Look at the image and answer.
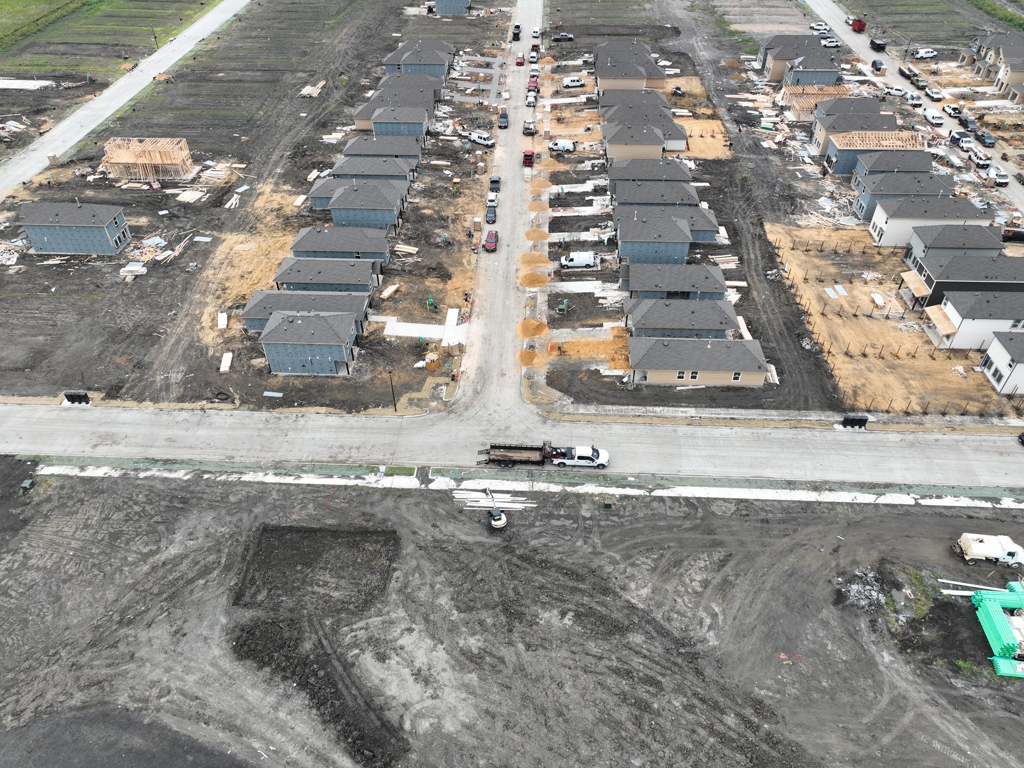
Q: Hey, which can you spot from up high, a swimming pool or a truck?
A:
truck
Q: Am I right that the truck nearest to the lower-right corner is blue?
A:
No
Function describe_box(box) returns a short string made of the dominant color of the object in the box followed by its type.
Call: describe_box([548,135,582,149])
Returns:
white vehicle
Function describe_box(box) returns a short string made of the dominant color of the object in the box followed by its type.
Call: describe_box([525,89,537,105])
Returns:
white vehicle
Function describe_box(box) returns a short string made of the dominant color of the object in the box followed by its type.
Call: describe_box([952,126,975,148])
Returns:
white truck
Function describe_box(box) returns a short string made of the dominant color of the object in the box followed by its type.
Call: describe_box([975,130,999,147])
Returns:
gray vehicle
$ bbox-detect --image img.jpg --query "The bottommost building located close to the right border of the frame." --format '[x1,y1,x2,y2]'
[977,331,1024,396]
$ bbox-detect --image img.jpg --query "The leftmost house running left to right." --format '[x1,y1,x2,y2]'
[10,200,133,257]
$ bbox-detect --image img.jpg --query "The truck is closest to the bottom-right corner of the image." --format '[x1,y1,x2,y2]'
[941,531,1024,568]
